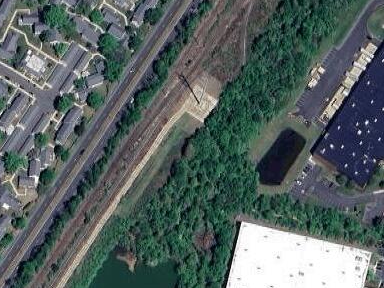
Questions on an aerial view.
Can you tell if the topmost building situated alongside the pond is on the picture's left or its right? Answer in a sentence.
The topmost building situated alongside the pond sits on the right side.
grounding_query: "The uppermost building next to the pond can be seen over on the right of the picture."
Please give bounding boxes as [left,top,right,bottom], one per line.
[313,43,384,192]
